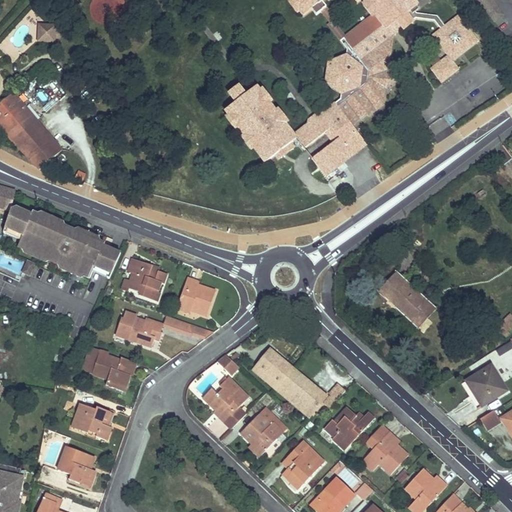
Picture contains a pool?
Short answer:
Yes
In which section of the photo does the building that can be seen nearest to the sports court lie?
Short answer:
top left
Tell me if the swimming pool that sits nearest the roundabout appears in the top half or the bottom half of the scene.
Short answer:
bottom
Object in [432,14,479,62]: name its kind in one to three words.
building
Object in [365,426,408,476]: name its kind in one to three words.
house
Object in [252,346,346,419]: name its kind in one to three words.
building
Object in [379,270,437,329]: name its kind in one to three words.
house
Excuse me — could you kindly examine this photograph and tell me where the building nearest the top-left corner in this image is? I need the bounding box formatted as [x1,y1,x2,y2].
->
[36,21,58,42]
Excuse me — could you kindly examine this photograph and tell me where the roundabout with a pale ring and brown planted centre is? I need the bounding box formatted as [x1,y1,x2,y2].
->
[238,246,330,308]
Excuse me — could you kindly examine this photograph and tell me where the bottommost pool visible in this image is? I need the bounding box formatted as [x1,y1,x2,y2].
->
[44,440,62,466]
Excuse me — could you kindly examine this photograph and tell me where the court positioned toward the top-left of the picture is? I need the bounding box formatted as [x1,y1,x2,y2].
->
[90,0,126,26]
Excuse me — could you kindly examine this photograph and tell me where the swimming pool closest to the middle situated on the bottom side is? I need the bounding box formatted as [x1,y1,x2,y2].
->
[196,372,219,394]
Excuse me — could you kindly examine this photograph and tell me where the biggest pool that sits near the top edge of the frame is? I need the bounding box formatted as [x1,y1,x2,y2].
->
[10,24,30,48]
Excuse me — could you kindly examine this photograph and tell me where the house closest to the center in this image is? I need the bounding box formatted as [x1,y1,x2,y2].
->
[178,276,216,318]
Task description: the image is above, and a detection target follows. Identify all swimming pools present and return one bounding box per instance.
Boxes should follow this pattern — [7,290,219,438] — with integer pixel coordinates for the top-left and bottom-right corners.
[0,254,24,273]
[10,24,30,48]
[44,440,62,466]
[38,91,48,103]
[196,372,219,394]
